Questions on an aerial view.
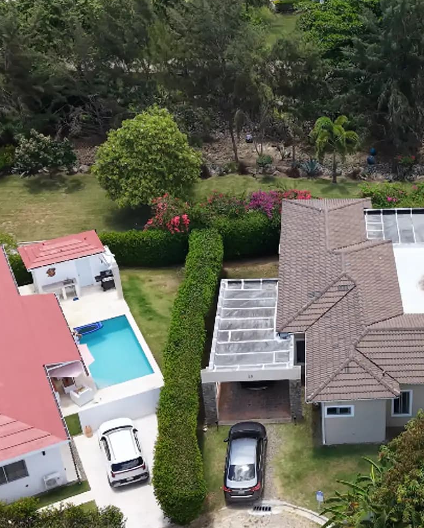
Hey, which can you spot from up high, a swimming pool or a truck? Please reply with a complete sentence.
I can see a swimming pool in this picture.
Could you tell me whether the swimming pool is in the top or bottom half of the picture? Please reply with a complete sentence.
The swimming pool sits in the bottom half of the picture.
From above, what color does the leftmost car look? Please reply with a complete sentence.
The leftmost car is white.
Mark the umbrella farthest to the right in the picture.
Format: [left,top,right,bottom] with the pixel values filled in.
[77,348,101,381]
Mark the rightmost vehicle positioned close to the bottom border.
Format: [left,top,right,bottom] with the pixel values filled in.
[223,427,269,510]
